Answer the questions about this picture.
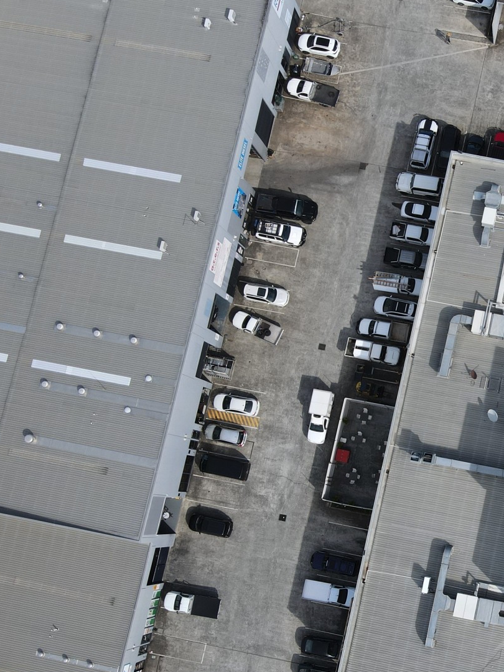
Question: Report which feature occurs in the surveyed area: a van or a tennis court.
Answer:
van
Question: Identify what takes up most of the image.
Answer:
buildings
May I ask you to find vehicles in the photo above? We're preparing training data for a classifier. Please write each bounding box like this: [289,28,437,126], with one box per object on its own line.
[298,662,338,672]
[382,246,429,271]
[243,282,292,307]
[231,312,285,347]
[342,337,402,365]
[404,201,439,225]
[368,270,424,300]
[200,452,253,479]
[252,191,321,220]
[212,391,262,417]
[396,171,444,200]
[298,30,343,59]
[453,0,497,13]
[204,423,251,448]
[163,592,222,618]
[373,295,419,321]
[189,511,235,536]
[387,222,434,248]
[253,217,309,247]
[490,132,504,161]
[408,119,438,171]
[302,387,336,445]
[287,78,341,109]
[432,125,460,177]
[301,635,345,663]
[310,551,358,578]
[461,134,483,156]
[296,579,357,608]
[357,316,414,344]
